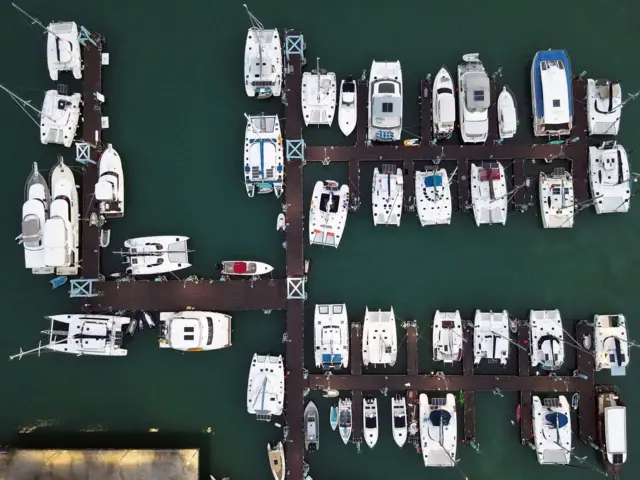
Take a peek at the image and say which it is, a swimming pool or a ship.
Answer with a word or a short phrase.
ship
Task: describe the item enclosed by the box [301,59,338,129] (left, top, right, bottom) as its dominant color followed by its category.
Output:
white boat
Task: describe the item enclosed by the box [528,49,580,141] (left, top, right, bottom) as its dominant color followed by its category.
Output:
white ship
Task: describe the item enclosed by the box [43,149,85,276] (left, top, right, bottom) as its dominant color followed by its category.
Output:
white boat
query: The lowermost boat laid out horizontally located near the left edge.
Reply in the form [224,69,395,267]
[4,314,134,361]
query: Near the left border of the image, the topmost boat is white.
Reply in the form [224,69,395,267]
[9,1,86,84]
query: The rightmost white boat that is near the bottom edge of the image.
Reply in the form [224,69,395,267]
[594,382,627,480]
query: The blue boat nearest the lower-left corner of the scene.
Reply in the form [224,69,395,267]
[49,276,66,289]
